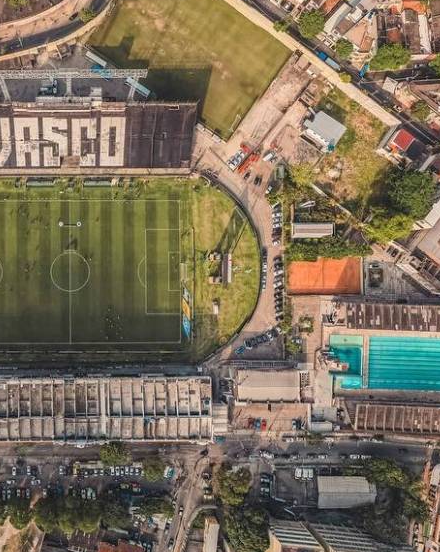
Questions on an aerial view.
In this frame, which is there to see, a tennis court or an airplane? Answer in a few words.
tennis court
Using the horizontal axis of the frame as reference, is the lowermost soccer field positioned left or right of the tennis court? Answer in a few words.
to its left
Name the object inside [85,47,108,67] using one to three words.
vehicle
